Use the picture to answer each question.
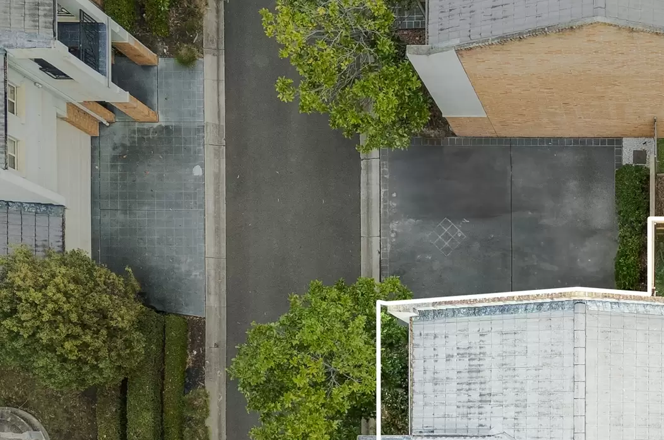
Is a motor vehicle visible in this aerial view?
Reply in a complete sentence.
No, this view has no motor vehicle in it.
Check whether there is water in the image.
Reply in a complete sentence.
No, there is no water in the image.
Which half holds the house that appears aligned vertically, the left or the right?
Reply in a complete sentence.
You can find the house that appears aligned vertically on the left side of the picture.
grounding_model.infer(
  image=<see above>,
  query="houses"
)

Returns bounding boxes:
[356,300,664,440]
[0,0,130,280]
[405,0,664,136]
